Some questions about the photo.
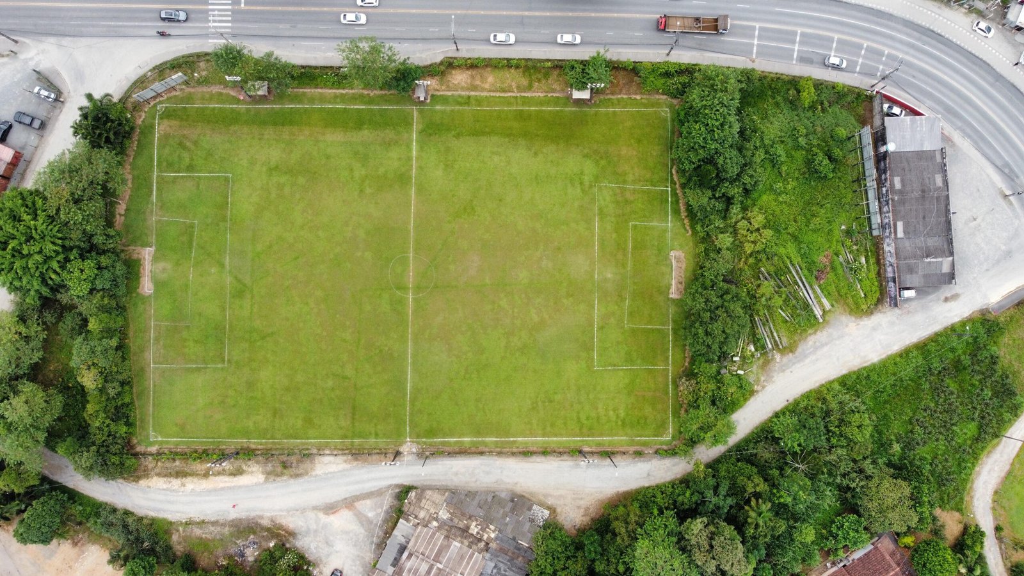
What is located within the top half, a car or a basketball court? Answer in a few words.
car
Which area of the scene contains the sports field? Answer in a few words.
center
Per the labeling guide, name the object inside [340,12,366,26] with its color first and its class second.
white car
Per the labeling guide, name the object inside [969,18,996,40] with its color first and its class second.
white car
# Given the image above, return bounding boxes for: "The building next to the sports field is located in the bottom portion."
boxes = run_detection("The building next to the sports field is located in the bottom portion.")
[376,491,546,576]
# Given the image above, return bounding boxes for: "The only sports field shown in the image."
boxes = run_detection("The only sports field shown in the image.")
[122,90,695,448]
